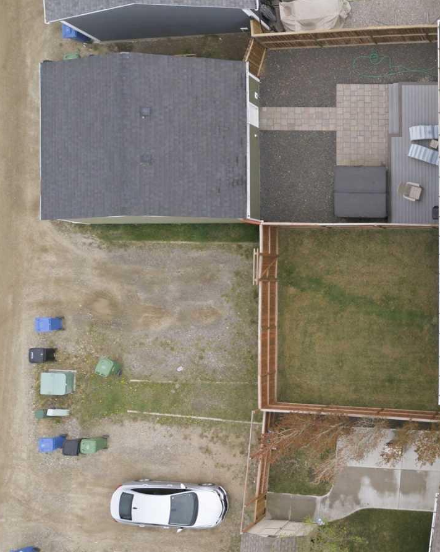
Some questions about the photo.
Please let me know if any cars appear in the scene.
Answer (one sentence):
Yes, the picture does show a car.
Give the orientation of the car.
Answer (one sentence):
The car has been laid out from side to side relative to the frame.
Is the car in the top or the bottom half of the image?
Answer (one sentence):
The car is in the bottom half of the image.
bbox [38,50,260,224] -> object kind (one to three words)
building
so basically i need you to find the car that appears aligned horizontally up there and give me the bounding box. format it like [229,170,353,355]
[111,477,233,537]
